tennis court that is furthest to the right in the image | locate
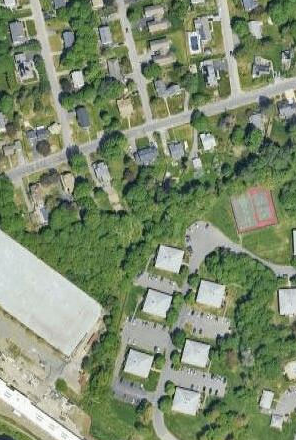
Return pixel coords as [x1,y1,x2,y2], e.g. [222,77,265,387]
[252,188,277,226]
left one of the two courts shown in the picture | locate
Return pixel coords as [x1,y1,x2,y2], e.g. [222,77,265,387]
[231,192,260,233]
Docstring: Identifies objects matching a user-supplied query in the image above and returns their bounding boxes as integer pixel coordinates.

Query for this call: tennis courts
[252,188,277,226]
[231,192,260,233]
